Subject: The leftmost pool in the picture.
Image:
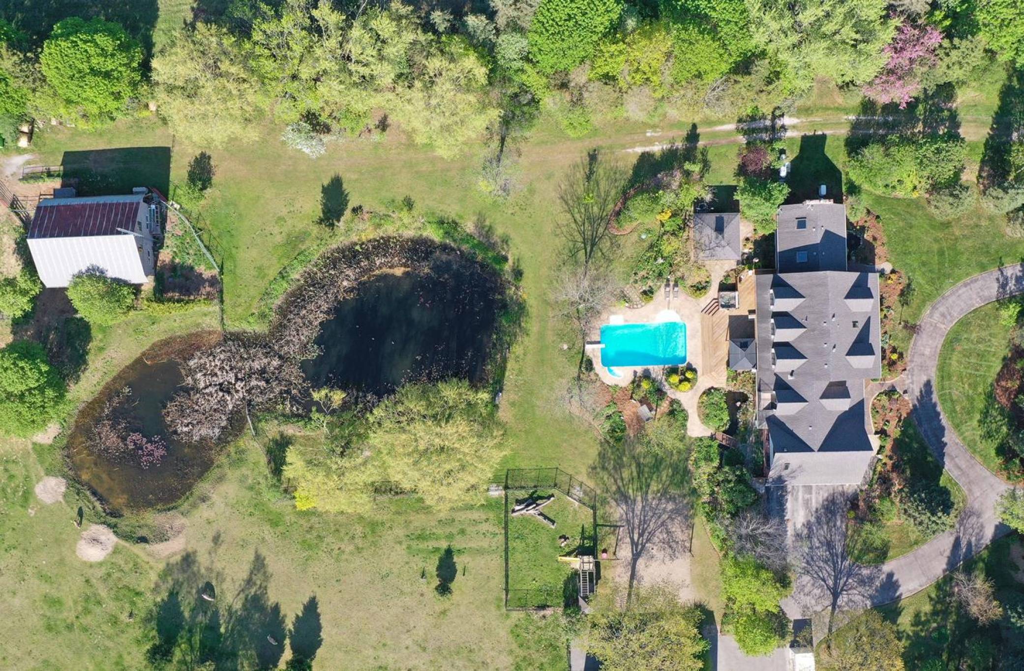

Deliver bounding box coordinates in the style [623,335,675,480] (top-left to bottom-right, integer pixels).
[599,309,688,368]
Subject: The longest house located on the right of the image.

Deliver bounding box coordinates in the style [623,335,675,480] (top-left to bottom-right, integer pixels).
[752,198,882,488]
